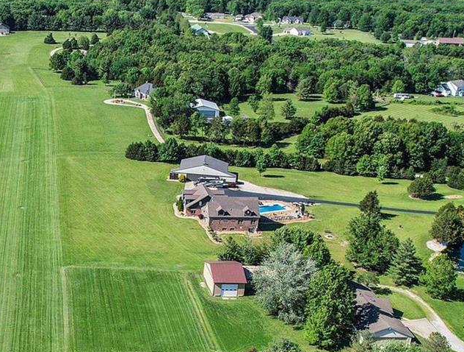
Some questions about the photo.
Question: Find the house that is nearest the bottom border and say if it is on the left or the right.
right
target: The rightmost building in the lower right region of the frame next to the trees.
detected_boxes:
[356,286,416,346]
